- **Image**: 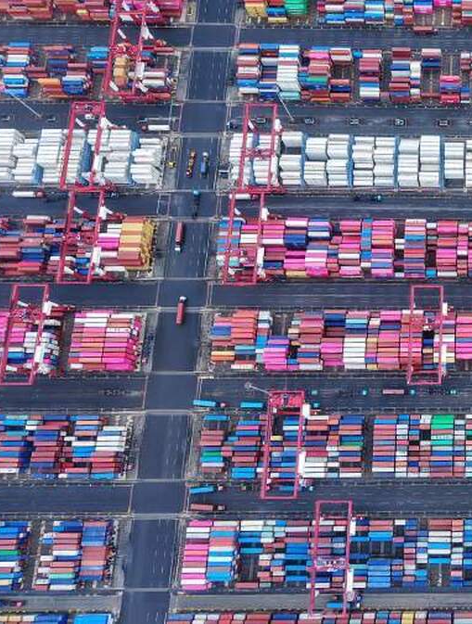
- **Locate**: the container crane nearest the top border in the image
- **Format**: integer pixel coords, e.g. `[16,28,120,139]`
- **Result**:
[115,0,166,22]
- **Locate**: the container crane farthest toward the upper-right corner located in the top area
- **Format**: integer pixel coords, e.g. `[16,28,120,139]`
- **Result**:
[237,104,290,194]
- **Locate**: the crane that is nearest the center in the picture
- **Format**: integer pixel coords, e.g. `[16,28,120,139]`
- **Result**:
[222,191,276,285]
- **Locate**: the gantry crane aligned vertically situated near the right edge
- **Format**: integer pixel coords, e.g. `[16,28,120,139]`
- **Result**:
[403,286,452,385]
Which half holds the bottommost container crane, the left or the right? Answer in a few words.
right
